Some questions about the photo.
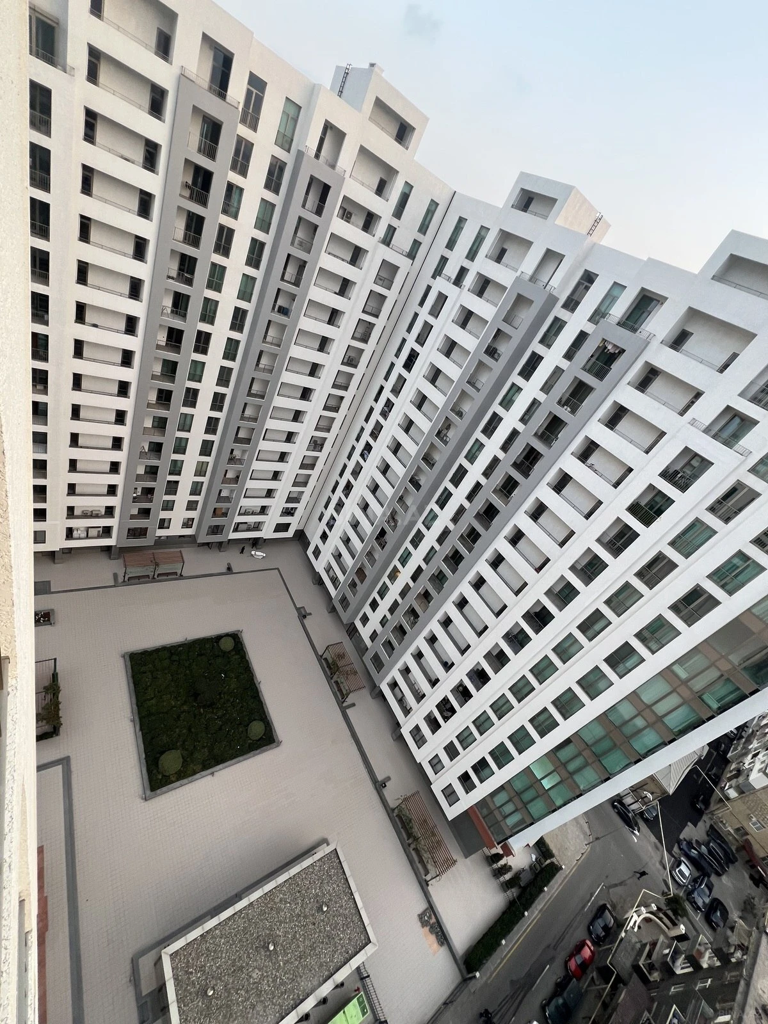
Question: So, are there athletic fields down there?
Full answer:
No, the frame has no athletic field in it.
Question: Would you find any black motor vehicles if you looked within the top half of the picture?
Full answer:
No, I see no black motor vehicle within the top half of the picture.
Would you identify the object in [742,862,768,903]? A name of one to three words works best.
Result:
car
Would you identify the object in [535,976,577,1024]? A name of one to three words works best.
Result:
truck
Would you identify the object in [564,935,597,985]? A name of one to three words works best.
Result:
car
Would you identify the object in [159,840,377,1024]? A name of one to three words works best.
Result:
building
